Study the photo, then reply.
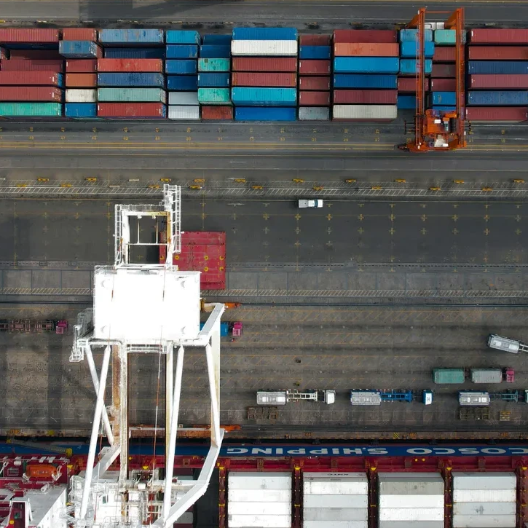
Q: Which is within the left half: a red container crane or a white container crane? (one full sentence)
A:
There is a white container crane within the left half.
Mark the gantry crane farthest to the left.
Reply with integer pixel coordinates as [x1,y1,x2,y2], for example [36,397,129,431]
[60,179,244,528]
